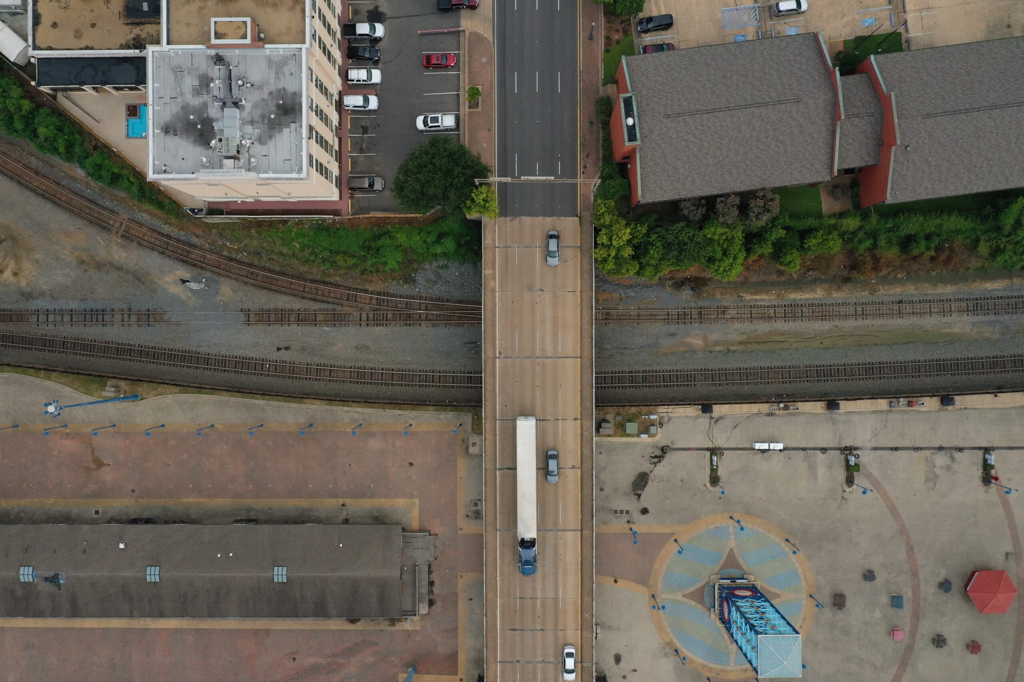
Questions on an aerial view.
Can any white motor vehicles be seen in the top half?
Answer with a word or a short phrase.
Yes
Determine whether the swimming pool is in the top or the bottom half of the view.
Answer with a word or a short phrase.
top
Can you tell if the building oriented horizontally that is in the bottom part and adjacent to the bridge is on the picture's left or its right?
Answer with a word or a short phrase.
left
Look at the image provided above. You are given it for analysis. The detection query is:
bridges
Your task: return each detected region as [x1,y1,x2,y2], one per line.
[471,213,595,682]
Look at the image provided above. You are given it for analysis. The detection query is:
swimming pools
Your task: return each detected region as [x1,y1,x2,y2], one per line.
[126,103,148,138]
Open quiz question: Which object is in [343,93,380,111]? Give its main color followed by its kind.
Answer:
white car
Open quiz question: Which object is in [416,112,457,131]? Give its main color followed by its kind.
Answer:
white vehicle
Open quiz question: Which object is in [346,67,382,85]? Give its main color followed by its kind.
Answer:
white car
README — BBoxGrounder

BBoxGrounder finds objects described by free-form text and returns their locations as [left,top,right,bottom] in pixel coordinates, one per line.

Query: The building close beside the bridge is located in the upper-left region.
[148,0,344,203]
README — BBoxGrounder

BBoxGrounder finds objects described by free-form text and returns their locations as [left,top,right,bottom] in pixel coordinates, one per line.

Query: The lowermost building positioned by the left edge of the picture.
[0,521,403,619]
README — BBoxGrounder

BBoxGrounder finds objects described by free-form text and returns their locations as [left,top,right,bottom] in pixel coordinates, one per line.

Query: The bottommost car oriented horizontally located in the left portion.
[349,175,385,192]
